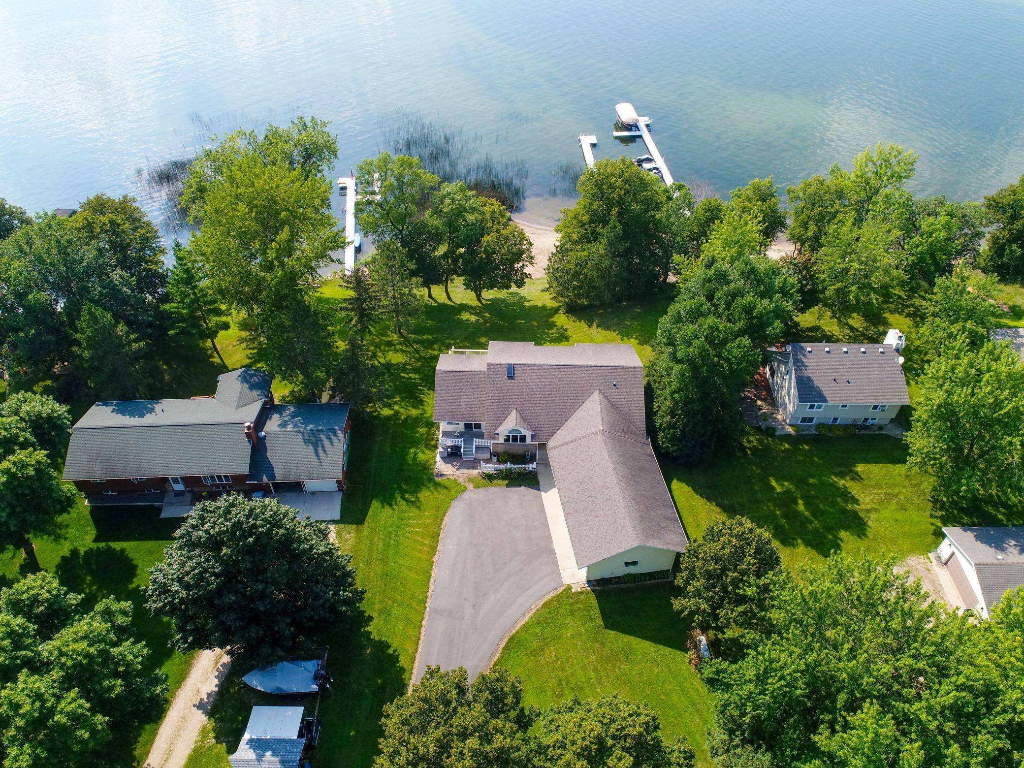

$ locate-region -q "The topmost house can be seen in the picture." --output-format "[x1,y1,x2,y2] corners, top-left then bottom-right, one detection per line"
[768,323,915,425]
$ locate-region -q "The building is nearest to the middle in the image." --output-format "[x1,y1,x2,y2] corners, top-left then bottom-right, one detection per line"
[433,342,685,580]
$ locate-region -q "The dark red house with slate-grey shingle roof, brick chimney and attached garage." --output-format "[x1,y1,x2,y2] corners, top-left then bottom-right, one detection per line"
[66,366,354,513]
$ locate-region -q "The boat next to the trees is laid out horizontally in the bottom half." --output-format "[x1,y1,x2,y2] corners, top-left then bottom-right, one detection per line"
[243,662,327,692]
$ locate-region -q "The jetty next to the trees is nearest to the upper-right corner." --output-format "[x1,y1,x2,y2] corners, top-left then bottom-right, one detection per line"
[613,112,679,193]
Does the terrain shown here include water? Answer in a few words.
Yes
